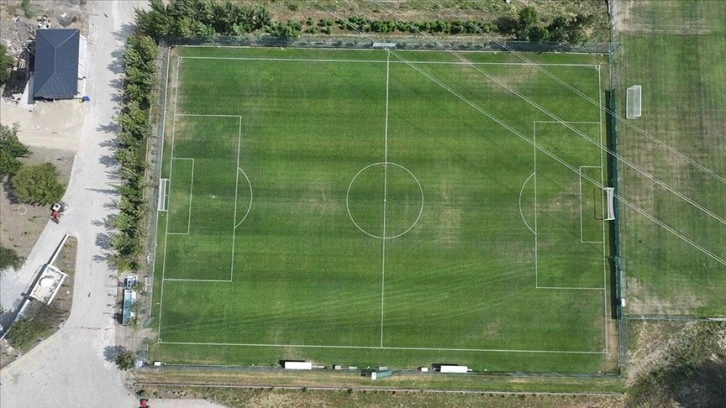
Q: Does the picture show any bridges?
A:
No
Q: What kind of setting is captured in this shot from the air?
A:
sports ground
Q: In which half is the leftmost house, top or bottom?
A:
top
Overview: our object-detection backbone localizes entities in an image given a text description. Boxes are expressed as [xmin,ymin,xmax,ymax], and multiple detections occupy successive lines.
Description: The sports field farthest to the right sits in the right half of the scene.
[617,0,726,319]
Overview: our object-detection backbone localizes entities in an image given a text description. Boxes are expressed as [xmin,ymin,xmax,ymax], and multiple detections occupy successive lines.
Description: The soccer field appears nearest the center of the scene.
[147,48,619,375]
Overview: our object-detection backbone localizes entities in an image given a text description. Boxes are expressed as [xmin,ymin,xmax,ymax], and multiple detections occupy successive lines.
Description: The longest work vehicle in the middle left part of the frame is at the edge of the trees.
[50,199,69,224]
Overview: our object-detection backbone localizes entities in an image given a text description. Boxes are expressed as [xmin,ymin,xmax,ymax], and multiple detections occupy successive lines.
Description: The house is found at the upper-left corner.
[33,29,85,101]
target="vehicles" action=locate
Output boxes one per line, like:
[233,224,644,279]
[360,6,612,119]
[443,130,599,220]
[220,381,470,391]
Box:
[140,399,151,408]
[50,199,69,224]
